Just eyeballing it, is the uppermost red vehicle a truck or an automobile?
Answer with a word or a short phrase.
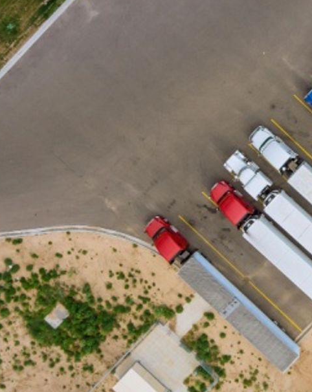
truck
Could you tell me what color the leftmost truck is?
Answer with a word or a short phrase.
red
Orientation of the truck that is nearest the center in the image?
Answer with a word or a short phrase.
diagonally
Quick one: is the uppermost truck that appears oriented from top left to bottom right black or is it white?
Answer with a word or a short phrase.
white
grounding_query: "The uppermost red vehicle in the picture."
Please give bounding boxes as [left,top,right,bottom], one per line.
[210,178,278,227]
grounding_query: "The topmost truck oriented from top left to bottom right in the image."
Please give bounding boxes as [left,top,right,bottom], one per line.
[250,124,312,175]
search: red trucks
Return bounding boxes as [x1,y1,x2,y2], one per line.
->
[210,178,278,227]
[147,215,215,263]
